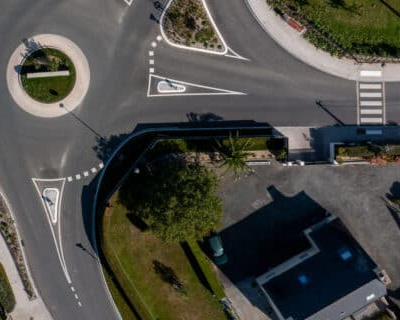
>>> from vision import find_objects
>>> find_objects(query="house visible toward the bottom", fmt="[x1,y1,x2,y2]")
[255,213,386,320]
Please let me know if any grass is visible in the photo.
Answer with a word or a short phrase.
Yes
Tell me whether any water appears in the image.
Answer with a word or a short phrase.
No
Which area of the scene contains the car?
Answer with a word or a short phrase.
bottom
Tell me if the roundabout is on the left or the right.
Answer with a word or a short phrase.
left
